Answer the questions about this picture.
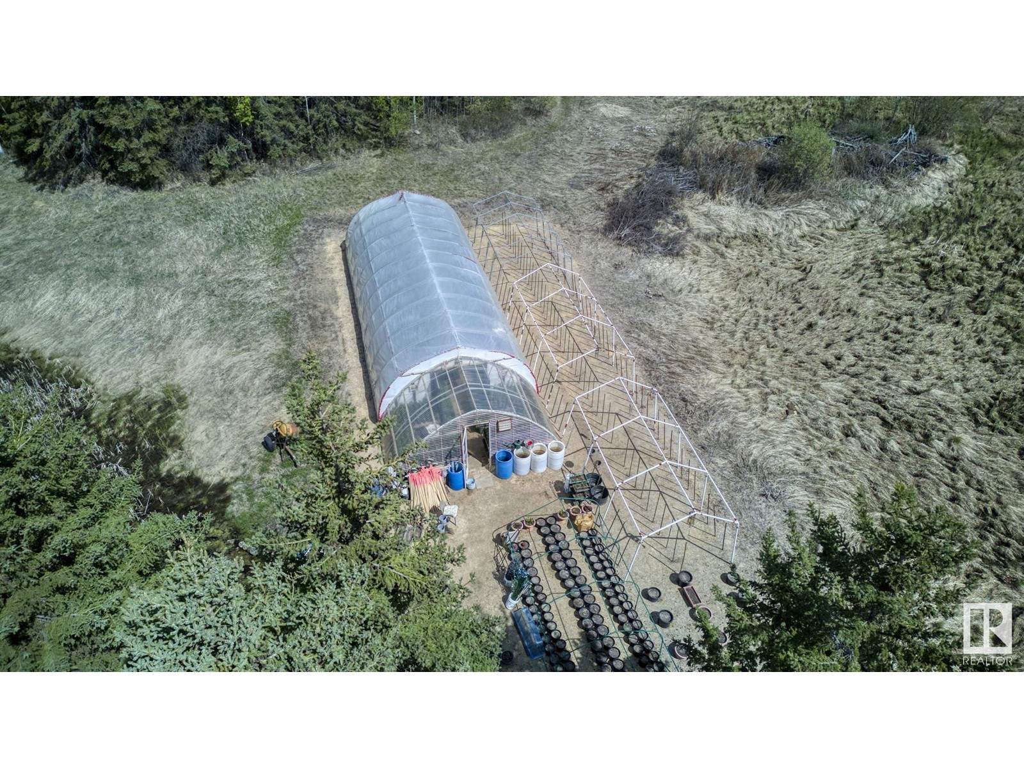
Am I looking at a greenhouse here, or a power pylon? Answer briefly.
greenhouse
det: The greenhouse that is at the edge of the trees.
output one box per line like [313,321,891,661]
[336,190,556,490]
